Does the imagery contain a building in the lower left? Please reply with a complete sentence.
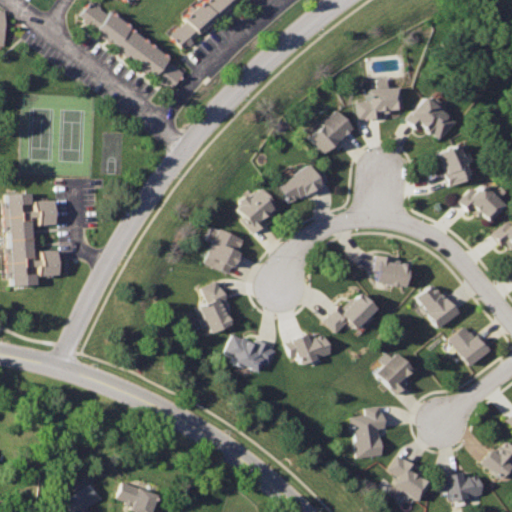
Yes, a building appears in the lower left.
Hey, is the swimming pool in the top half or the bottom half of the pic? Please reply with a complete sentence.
Seen from above, the swimming pool lies in the top half of the view.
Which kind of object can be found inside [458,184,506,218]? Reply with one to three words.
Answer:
house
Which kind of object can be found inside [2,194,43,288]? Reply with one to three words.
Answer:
building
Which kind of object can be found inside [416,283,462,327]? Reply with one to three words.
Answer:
house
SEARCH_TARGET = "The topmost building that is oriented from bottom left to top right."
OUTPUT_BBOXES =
[169,0,238,46]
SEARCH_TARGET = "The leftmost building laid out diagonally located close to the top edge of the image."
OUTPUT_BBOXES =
[78,2,185,86]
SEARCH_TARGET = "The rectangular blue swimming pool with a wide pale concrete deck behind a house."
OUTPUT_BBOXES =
[366,56,404,79]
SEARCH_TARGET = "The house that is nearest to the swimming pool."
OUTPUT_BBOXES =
[354,79,401,120]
